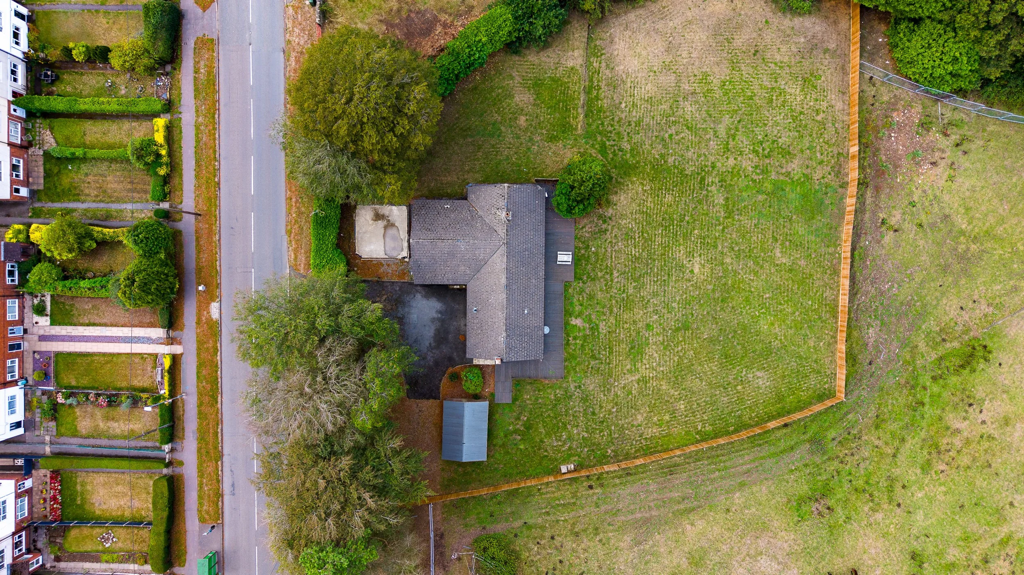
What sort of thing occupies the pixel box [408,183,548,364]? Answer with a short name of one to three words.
house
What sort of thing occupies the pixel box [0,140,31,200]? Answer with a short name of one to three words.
house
